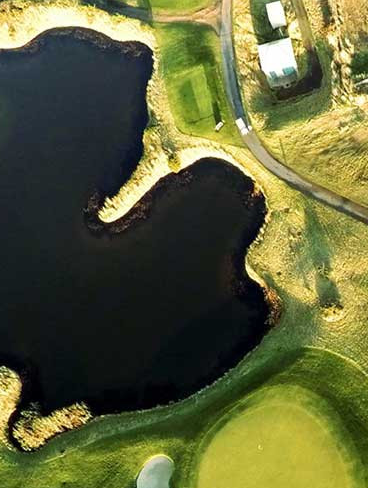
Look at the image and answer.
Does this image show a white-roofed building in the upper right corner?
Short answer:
Yes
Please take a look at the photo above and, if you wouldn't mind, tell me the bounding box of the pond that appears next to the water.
[0,26,273,452]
